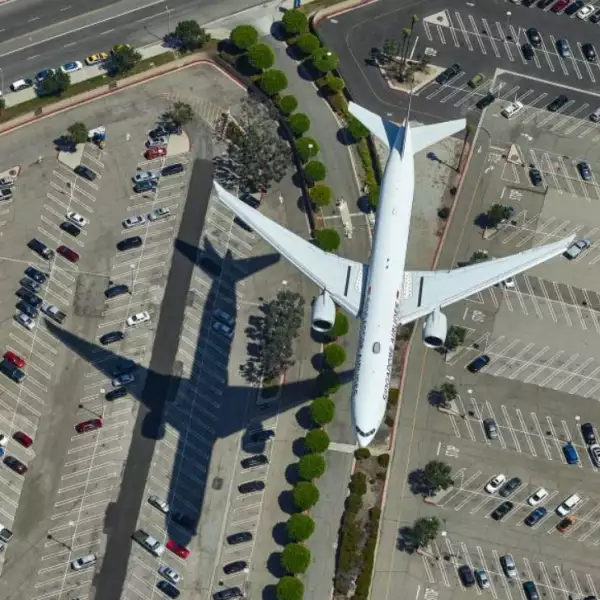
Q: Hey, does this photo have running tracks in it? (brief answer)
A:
No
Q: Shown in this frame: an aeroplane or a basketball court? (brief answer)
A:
aeroplane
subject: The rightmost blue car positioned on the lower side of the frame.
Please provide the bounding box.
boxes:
[562,442,579,465]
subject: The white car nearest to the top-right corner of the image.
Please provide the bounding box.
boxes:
[577,5,595,19]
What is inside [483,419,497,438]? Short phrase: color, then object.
gray car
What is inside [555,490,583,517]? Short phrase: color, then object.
white vehicle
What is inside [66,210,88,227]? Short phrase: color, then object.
white car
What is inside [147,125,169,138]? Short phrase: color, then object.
black vehicle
